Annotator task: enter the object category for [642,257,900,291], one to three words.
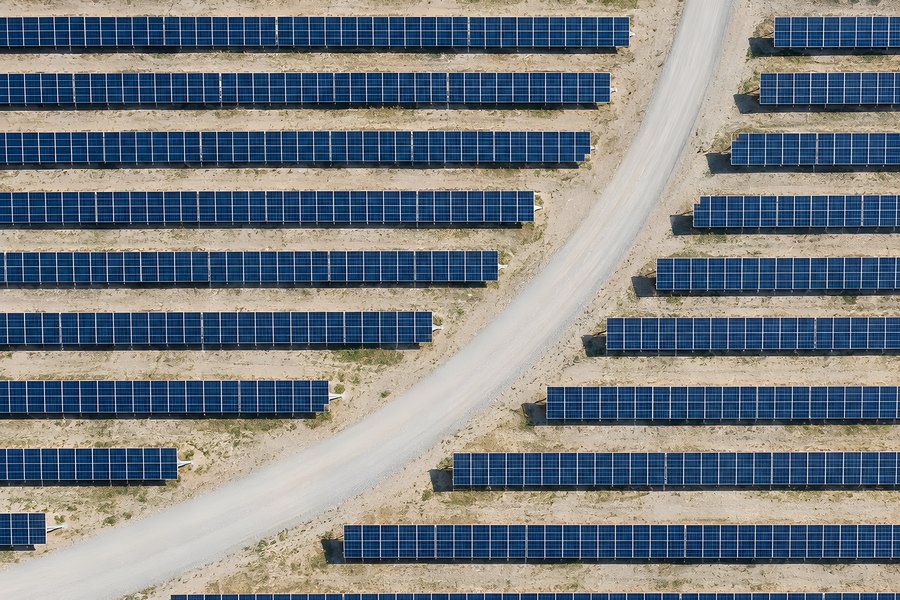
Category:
solar array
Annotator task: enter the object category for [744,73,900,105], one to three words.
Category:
solar array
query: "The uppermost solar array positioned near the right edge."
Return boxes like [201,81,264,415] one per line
[758,17,900,49]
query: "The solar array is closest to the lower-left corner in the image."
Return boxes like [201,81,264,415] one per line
[0,512,70,546]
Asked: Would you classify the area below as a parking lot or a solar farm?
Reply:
solar farm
